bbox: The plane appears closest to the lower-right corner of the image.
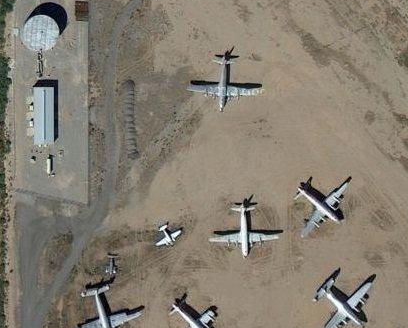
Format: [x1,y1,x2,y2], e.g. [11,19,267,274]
[315,279,374,328]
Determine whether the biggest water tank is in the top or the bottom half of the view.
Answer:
top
